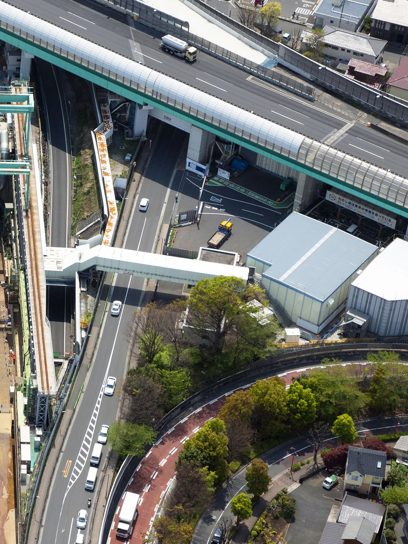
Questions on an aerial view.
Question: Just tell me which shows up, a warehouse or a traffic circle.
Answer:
warehouse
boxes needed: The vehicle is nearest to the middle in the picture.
[208,217,233,244]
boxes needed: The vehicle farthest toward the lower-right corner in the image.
[323,473,340,489]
